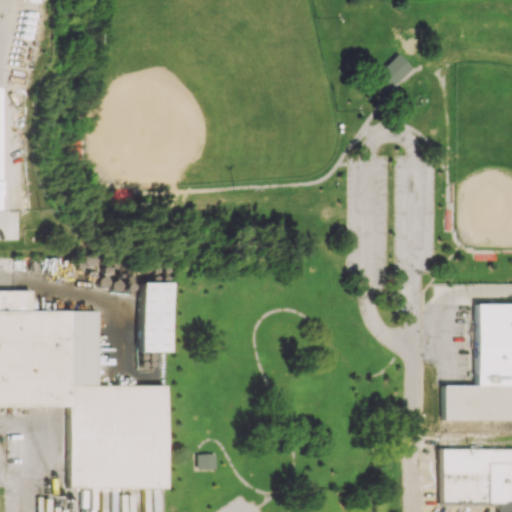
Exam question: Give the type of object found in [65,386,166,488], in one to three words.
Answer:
building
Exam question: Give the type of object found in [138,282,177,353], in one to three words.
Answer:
building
